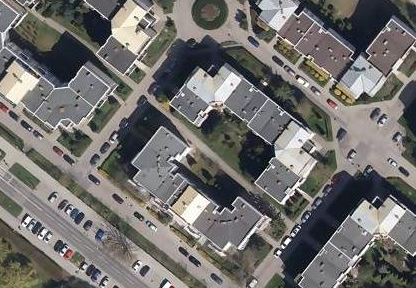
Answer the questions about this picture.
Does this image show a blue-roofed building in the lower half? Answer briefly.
No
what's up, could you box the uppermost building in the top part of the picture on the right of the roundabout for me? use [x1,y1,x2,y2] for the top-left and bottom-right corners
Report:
[257,0,299,32]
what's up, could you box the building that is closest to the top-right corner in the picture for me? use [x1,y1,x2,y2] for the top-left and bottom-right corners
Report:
[366,20,416,76]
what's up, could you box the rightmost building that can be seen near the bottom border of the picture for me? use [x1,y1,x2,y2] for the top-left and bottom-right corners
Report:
[299,194,416,288]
